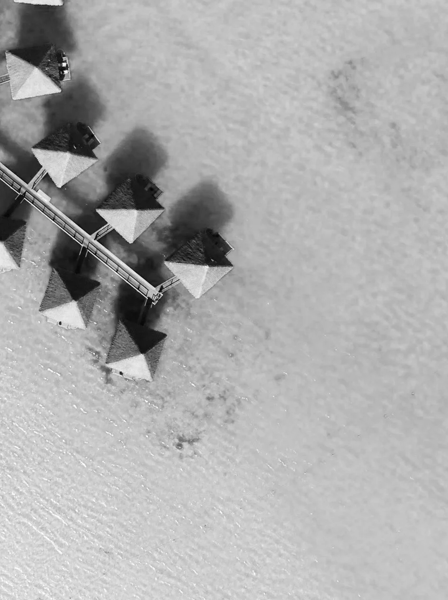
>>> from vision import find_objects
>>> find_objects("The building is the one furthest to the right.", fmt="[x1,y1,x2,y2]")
[165,229,236,298]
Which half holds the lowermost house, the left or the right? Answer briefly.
left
